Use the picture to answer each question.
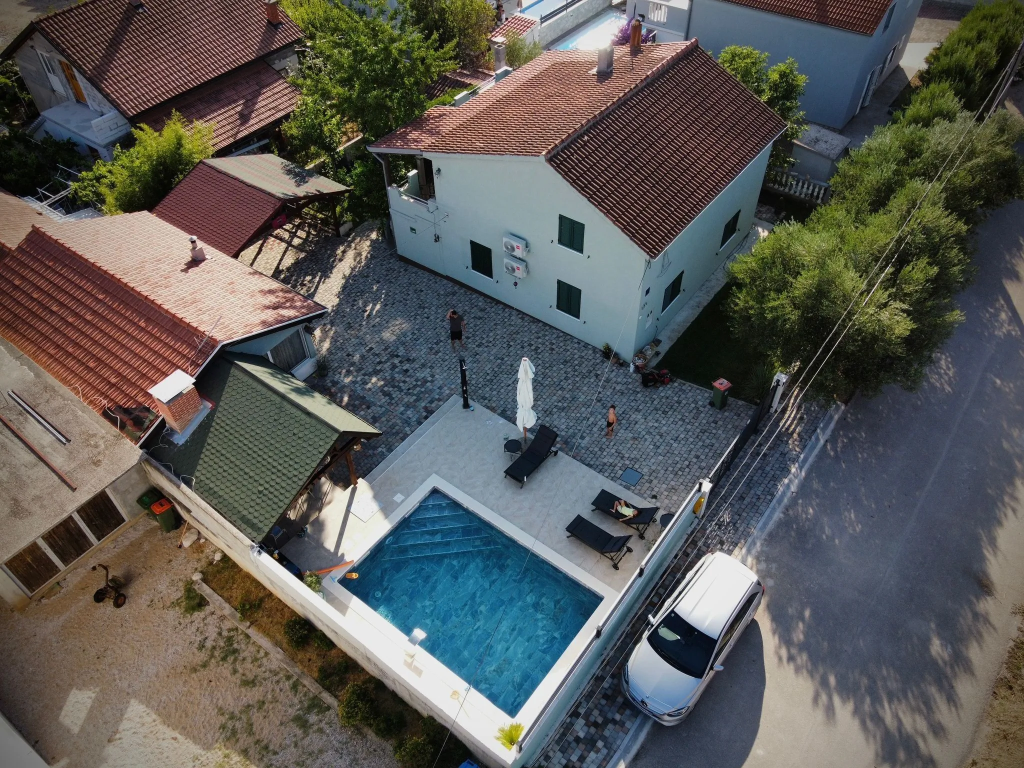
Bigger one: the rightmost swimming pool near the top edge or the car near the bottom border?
the car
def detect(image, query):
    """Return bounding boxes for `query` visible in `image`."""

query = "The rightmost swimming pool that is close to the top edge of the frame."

[542,8,629,52]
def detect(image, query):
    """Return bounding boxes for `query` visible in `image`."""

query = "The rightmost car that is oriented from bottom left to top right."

[616,549,758,731]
